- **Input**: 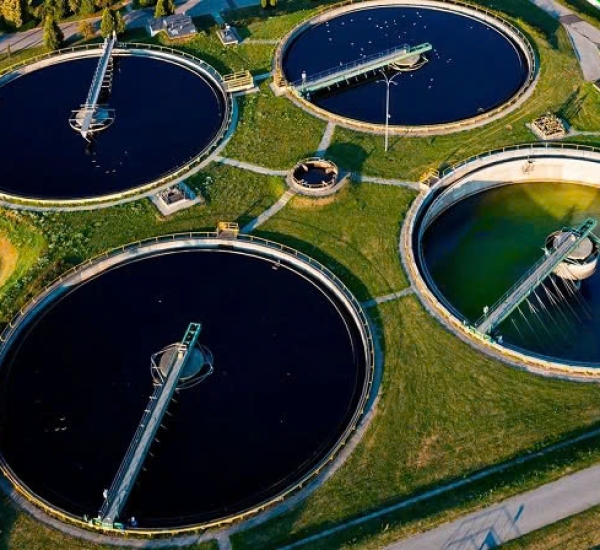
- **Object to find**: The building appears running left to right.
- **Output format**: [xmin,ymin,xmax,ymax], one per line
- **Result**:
[146,21,199,46]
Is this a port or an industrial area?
industrial area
